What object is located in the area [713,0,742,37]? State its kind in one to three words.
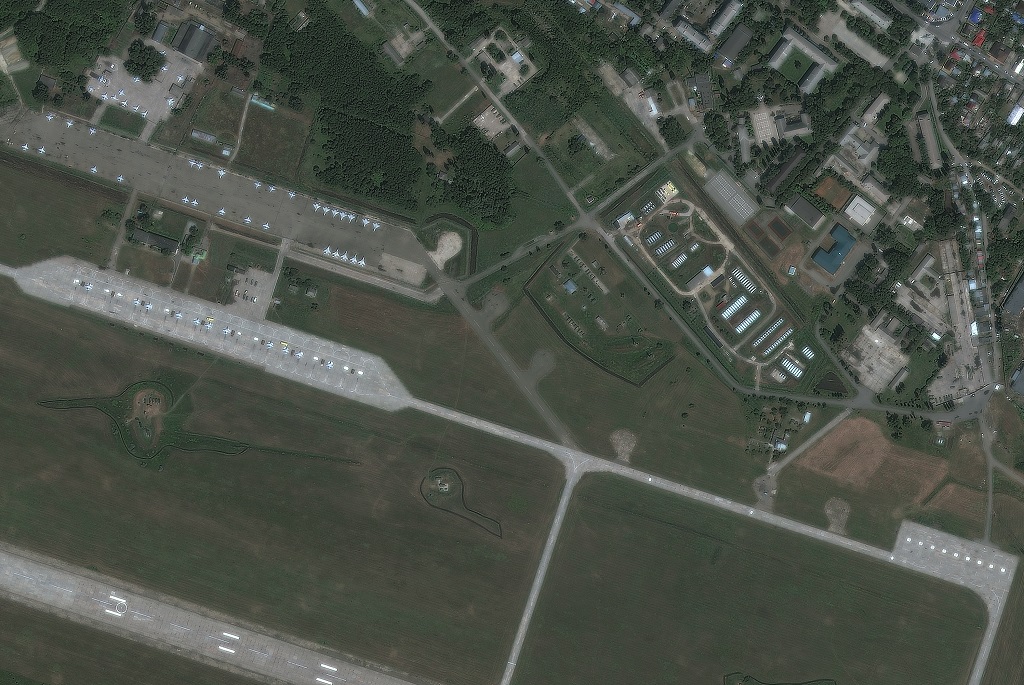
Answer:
building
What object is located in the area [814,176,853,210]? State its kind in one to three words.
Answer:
sports court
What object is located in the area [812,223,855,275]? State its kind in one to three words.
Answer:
building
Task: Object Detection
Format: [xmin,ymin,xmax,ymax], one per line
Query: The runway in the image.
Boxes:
[0,551,417,685]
